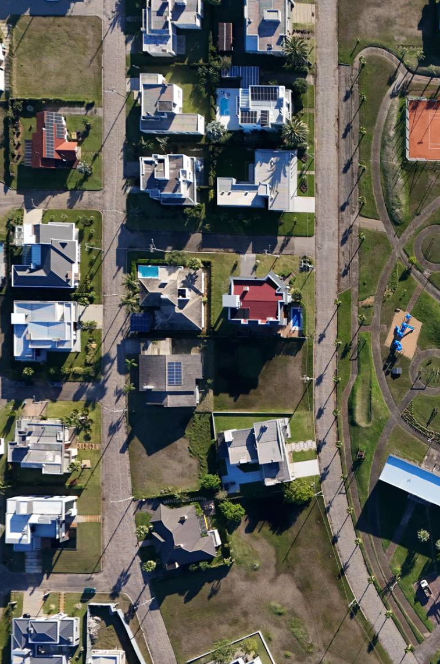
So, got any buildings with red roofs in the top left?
Yes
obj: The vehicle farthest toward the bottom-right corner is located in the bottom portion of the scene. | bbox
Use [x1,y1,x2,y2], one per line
[419,580,432,597]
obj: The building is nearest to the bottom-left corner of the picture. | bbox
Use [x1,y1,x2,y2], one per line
[12,617,80,664]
